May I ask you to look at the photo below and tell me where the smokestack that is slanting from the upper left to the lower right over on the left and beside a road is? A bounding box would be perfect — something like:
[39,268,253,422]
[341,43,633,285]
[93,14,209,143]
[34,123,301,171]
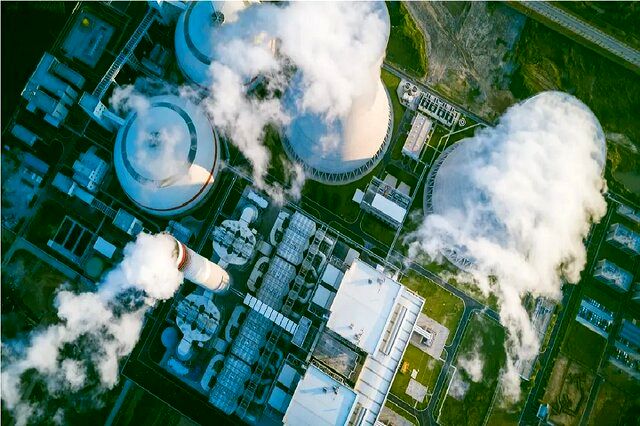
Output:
[161,238,234,297]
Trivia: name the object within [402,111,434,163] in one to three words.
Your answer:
building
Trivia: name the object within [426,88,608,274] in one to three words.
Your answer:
cooling tower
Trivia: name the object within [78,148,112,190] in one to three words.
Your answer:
house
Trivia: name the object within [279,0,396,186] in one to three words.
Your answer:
cooling tower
